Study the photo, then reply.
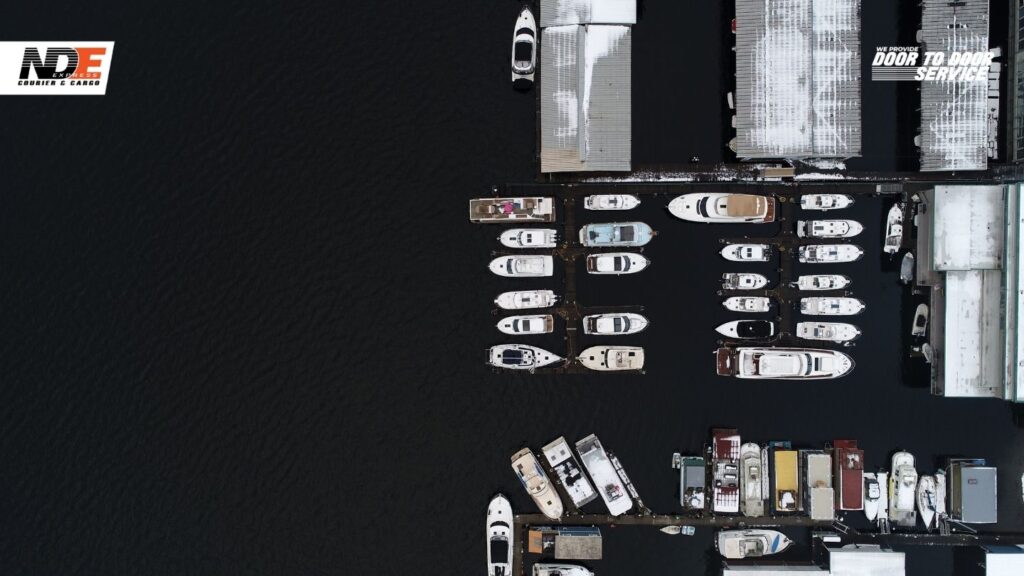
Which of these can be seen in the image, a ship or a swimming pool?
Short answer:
ship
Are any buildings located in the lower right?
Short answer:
Yes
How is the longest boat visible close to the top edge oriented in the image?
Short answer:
vertically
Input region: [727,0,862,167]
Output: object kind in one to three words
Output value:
shed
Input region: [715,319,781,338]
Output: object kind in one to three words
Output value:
boat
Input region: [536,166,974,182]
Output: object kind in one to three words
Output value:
pier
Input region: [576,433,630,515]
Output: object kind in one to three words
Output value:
ship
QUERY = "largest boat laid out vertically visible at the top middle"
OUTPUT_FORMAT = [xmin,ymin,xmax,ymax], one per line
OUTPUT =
[512,5,537,95]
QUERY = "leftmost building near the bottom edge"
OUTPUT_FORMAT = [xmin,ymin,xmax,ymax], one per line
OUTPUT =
[529,527,602,560]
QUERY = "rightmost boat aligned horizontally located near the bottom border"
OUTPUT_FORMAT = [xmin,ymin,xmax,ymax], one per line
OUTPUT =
[716,528,793,558]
